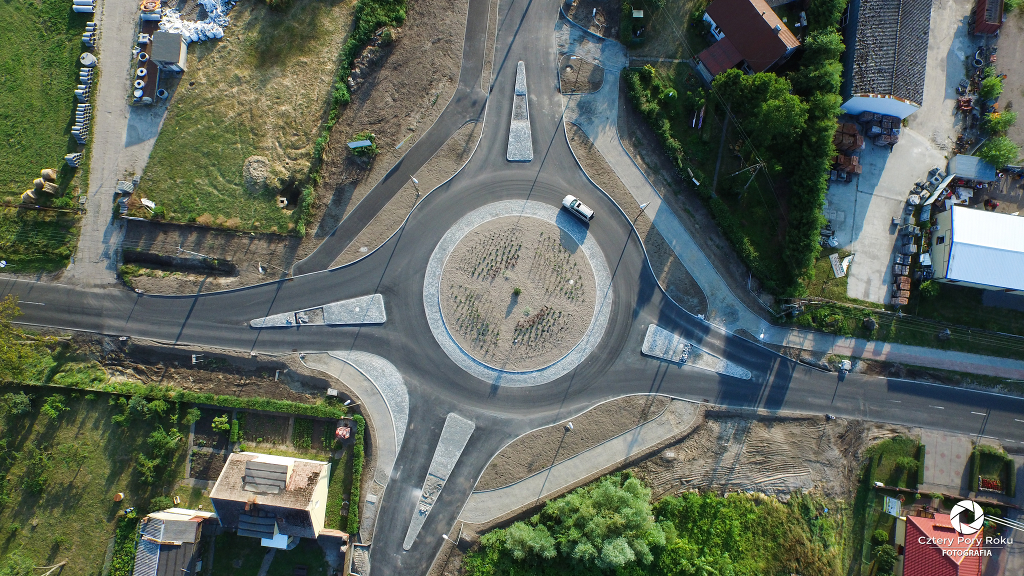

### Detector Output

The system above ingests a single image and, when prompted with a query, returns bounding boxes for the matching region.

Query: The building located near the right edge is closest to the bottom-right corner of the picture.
[893,509,984,576]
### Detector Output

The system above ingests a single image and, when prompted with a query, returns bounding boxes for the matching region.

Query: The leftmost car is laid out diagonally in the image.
[560,194,598,224]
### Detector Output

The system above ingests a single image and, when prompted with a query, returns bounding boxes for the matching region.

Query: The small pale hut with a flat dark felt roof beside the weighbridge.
[150,31,190,70]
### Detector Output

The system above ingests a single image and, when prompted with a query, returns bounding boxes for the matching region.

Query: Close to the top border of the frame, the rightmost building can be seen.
[839,0,930,116]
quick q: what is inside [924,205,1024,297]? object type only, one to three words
building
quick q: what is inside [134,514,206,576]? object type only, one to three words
shed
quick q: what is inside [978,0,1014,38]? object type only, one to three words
trailer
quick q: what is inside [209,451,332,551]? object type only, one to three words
house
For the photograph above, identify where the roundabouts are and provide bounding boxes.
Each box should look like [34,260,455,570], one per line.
[388,166,648,425]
